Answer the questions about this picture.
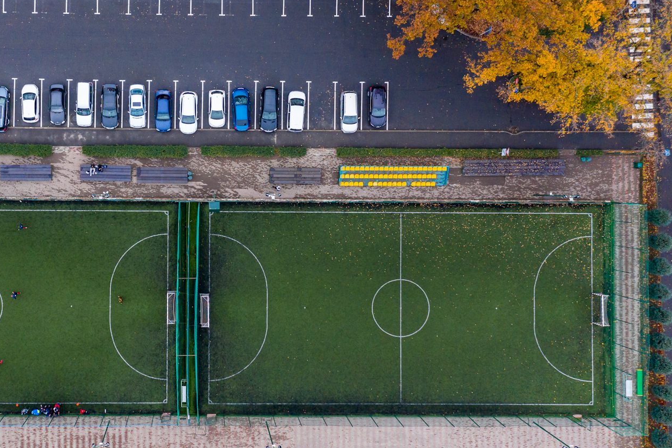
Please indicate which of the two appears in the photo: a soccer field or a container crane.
soccer field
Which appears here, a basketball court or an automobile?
automobile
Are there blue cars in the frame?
Yes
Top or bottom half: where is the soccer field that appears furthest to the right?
bottom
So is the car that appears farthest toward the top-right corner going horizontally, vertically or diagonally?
vertically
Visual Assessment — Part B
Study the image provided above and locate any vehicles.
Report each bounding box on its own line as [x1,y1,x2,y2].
[339,91,361,134]
[74,82,96,127]
[206,90,227,128]
[177,91,199,134]
[127,84,148,129]
[19,84,41,123]
[0,86,12,133]
[366,86,388,128]
[259,87,281,133]
[230,88,253,132]
[99,84,121,130]
[153,90,174,133]
[46,84,67,126]
[286,91,308,133]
